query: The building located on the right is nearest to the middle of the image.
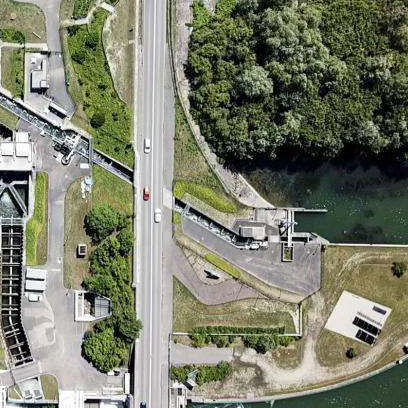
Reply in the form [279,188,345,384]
[235,226,267,238]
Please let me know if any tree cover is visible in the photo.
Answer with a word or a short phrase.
Yes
